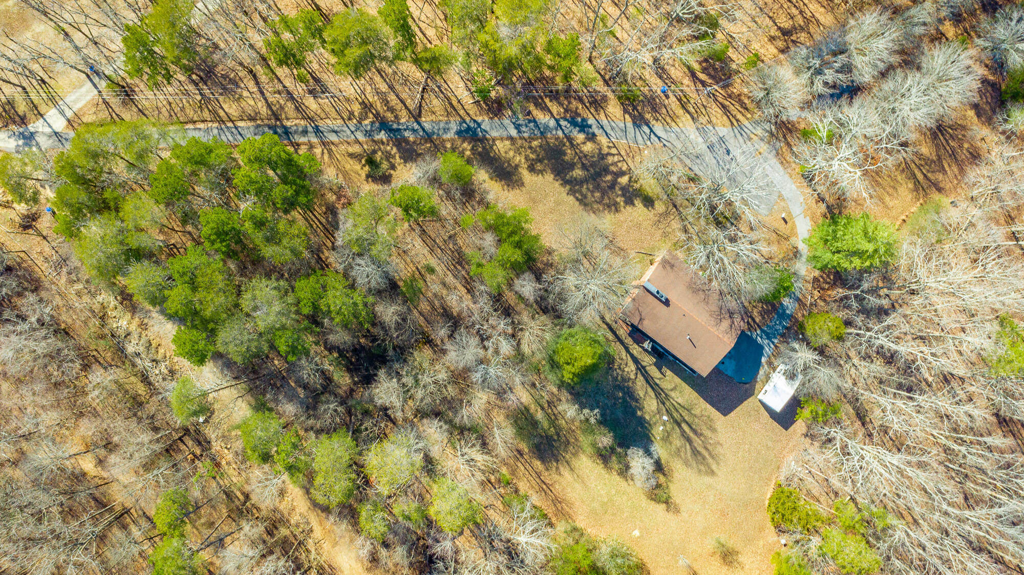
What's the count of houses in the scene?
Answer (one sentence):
The picture shows 1 house.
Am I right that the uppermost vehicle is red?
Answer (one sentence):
No, the uppermost vehicle is actually white.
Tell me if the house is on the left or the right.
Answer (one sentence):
The house sits on the right side.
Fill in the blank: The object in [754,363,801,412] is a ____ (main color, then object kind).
white vehicle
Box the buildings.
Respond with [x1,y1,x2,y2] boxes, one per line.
[618,250,751,377]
